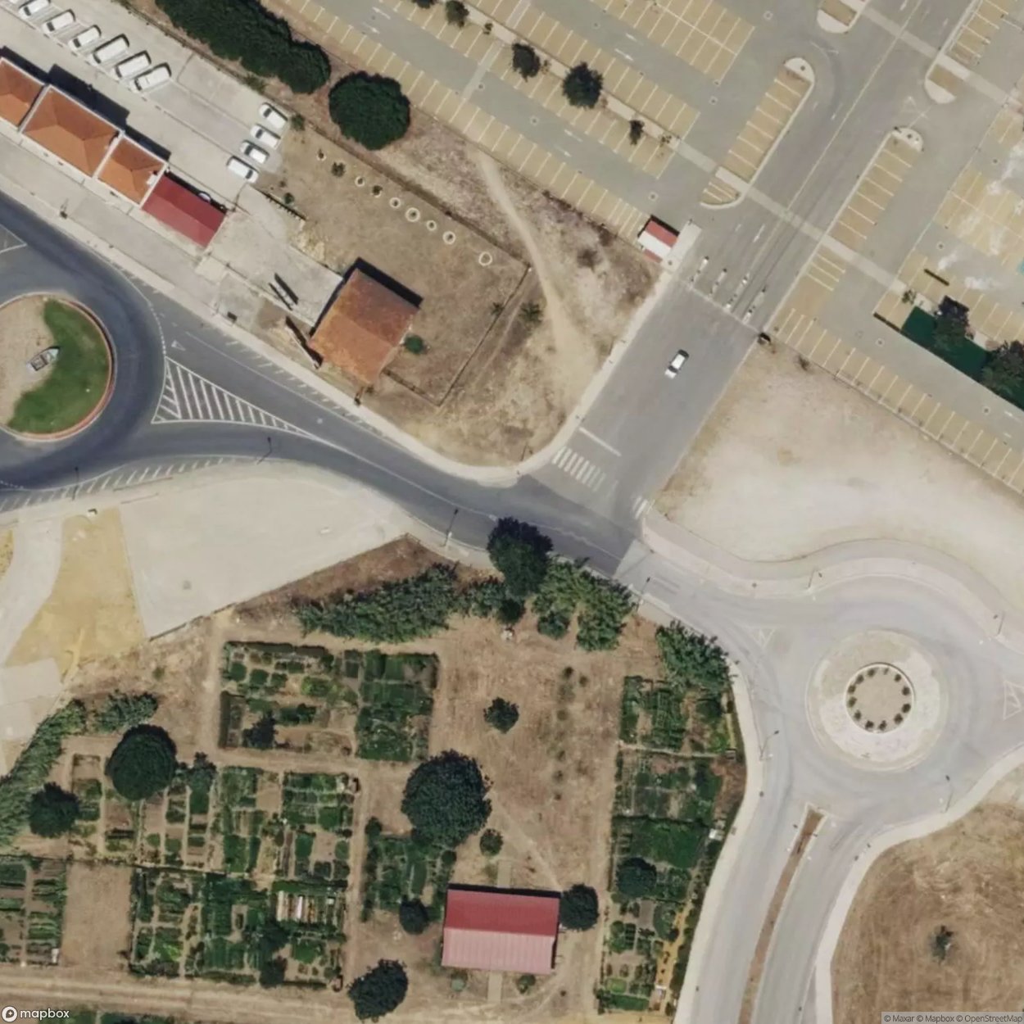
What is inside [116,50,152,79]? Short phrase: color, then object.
white van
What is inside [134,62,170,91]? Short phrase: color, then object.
white van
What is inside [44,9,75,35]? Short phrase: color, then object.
white car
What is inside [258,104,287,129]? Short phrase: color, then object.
white car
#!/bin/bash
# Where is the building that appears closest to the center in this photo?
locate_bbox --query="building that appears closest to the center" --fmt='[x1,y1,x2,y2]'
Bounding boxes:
[308,268,420,385]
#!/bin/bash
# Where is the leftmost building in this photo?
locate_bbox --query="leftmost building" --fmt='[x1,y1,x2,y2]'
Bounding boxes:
[0,55,43,127]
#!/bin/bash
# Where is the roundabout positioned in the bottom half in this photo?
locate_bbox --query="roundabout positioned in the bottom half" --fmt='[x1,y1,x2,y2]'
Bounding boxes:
[756,577,1001,822]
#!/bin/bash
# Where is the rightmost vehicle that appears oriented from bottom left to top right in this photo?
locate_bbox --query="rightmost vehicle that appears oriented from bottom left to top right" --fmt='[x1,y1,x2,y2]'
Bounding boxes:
[665,350,688,379]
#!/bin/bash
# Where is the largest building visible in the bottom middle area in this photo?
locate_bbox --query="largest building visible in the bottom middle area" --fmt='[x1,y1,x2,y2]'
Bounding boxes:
[441,890,560,975]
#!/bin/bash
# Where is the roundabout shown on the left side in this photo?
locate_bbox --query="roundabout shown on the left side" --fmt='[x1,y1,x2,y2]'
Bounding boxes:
[0,243,165,491]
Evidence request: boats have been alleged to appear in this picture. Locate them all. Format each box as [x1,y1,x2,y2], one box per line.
[26,350,58,371]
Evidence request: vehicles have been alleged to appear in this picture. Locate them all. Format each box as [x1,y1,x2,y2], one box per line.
[134,62,170,91]
[92,35,128,64]
[258,104,287,129]
[116,50,152,79]
[21,0,52,20]
[44,9,75,35]
[249,124,278,148]
[70,25,102,50]
[665,350,688,379]
[227,156,257,182]
[240,140,268,165]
